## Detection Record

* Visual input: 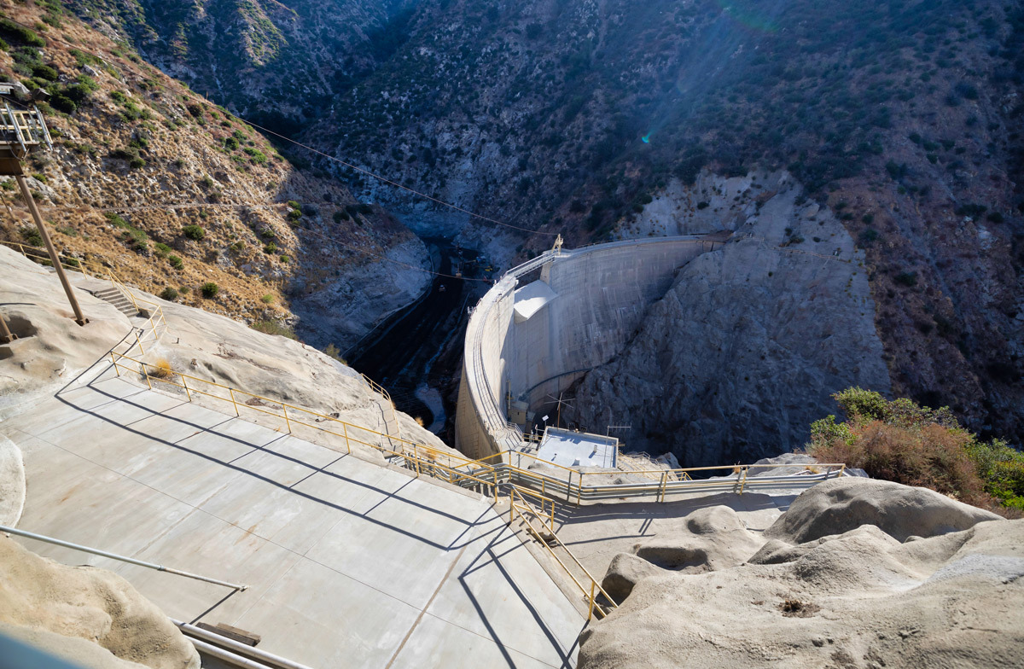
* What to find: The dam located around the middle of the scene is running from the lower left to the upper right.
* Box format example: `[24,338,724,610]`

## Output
[459,233,738,463]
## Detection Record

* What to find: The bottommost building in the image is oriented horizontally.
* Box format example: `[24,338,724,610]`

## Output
[536,425,621,466]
